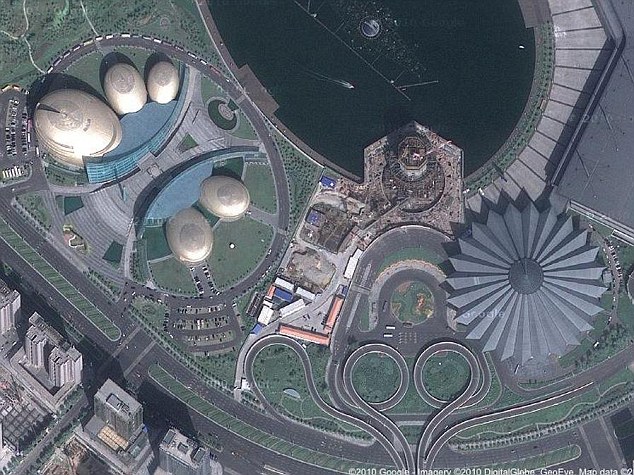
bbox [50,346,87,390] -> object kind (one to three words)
building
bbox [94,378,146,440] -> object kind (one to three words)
building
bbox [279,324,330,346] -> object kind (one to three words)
shed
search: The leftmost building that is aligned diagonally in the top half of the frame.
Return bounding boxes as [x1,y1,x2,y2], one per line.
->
[85,59,191,184]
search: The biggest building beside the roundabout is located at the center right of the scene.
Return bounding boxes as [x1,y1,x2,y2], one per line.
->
[446,201,612,366]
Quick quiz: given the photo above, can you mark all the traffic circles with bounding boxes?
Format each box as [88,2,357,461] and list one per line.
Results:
[391,282,435,327]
